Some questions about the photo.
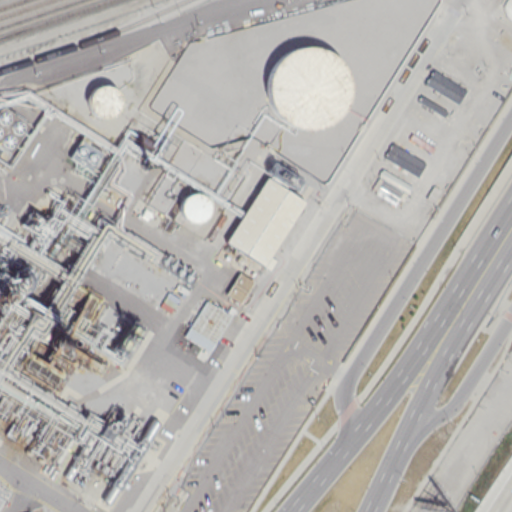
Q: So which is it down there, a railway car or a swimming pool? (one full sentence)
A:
Looking from above, you can make out a railway car.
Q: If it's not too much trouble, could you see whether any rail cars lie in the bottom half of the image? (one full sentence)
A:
No, no rail car can be made out in the bottom half of the image.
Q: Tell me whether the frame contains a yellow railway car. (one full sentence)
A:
No, there appears to be no yellow railway car in this shot.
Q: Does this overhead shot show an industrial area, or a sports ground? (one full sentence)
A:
This image shows an industrial area.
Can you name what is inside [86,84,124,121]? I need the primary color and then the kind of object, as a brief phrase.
white storage tank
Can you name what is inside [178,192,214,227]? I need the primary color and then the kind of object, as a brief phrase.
white storage tank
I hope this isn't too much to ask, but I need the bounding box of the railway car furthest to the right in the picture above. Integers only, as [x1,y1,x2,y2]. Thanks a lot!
[75,28,120,46]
